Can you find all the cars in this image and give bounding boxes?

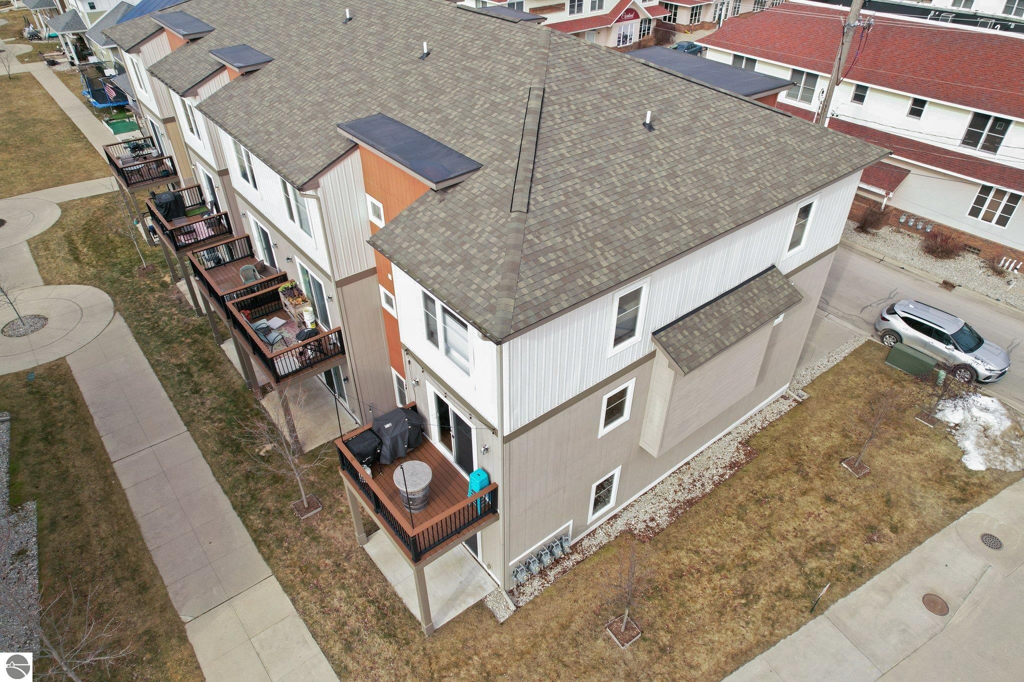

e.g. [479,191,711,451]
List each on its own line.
[872,295,1019,386]
[672,33,708,55]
